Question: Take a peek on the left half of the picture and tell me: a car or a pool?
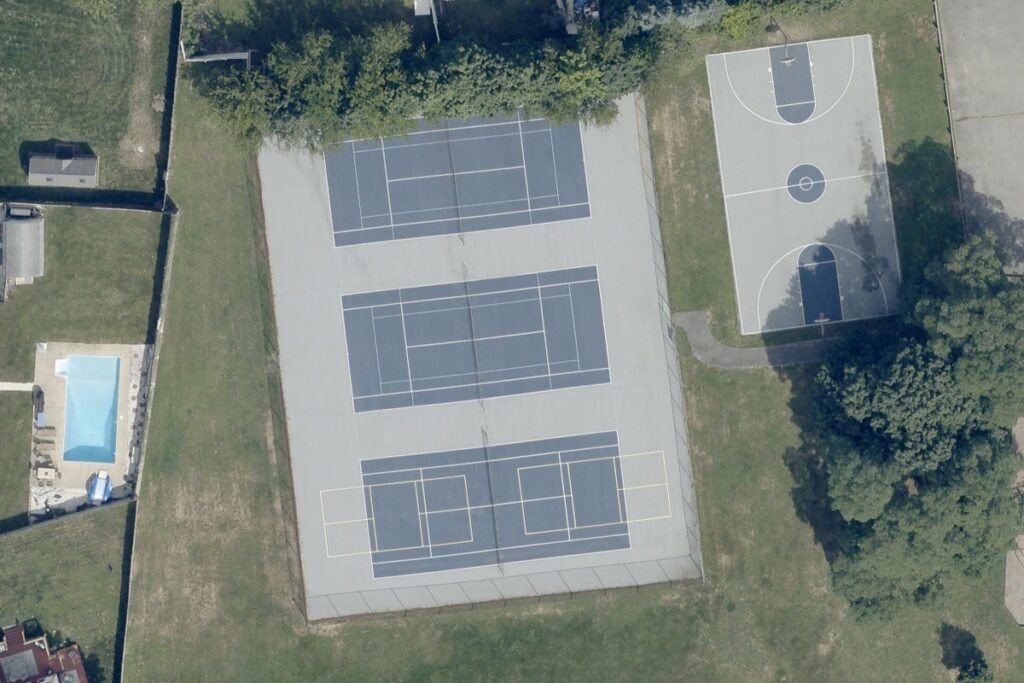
pool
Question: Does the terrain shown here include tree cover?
Yes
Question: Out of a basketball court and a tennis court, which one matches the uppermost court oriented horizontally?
tennis court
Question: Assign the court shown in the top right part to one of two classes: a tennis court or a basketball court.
basketball court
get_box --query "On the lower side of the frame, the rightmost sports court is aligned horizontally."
[518,451,672,535]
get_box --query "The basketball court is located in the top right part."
[706,34,905,335]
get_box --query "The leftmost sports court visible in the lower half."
[320,475,473,557]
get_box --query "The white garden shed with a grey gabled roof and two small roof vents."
[28,143,99,187]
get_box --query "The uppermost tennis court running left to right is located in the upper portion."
[321,101,592,248]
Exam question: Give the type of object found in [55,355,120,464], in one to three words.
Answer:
swimming pool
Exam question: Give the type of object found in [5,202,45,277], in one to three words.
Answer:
shed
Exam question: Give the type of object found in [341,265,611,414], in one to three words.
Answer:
tennis court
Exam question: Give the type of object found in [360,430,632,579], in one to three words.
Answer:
tennis court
